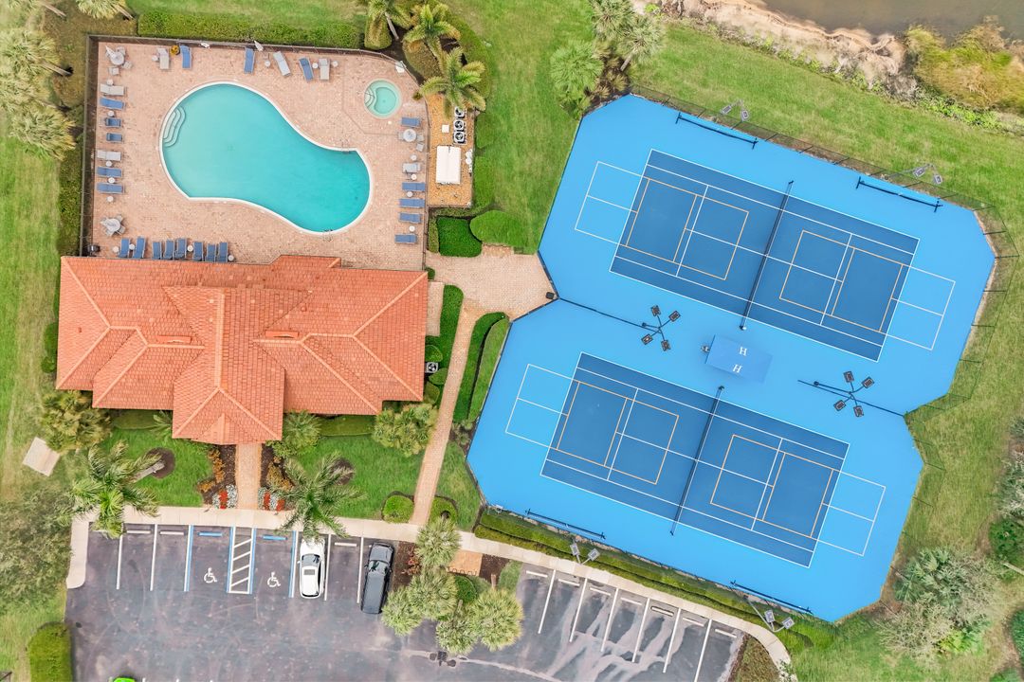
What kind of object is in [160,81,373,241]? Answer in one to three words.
swimming pool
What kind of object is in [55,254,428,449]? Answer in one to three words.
building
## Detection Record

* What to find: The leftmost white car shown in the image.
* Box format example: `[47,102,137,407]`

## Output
[296,541,324,600]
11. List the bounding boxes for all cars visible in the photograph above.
[296,541,324,600]
[111,677,135,682]
[361,546,393,619]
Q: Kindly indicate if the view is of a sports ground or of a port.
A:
sports ground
